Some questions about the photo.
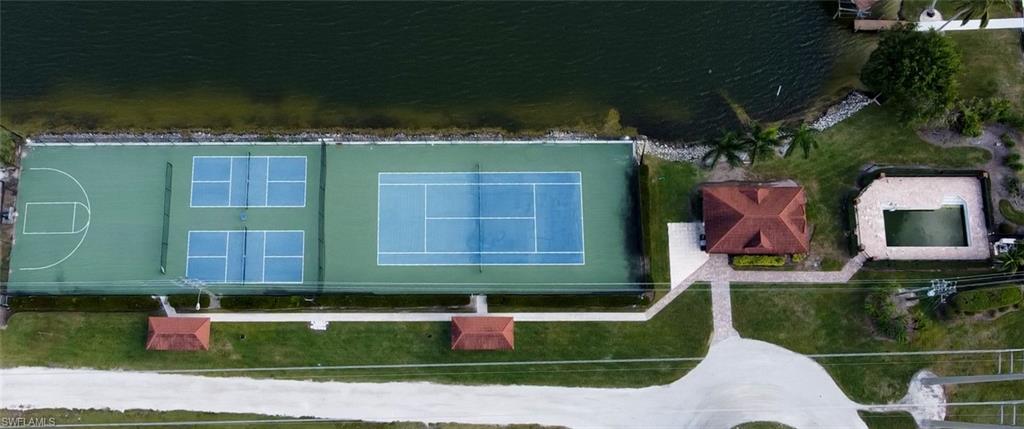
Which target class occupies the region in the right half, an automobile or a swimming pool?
swimming pool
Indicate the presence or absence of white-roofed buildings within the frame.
No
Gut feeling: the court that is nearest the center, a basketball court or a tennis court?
tennis court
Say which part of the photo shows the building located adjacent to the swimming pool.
right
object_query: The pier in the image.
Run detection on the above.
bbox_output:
[854,19,904,33]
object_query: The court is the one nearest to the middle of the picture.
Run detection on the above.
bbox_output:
[378,172,584,265]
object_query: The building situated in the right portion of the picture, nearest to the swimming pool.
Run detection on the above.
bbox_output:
[697,183,810,252]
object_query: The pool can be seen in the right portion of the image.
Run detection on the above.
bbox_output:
[860,177,990,259]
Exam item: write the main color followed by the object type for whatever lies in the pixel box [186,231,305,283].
blue sports court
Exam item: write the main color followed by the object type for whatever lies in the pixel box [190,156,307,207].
blue sports court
